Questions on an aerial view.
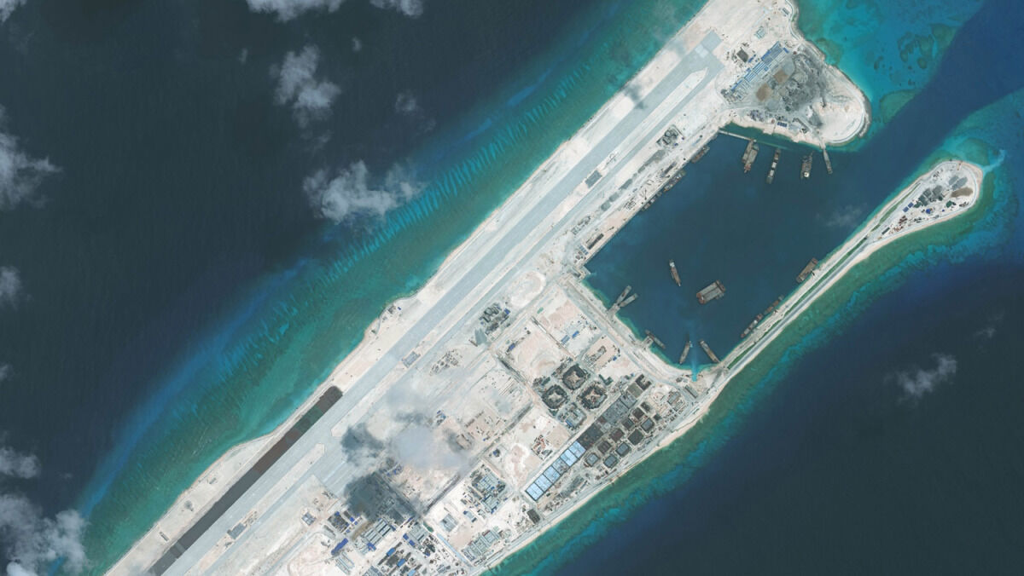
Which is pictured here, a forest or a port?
port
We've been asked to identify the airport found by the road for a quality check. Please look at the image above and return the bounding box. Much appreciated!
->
[142,29,725,576]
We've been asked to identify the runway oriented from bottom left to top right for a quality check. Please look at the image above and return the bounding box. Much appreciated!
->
[160,29,723,576]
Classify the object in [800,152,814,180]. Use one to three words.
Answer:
ship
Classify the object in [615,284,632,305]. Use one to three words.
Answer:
ship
